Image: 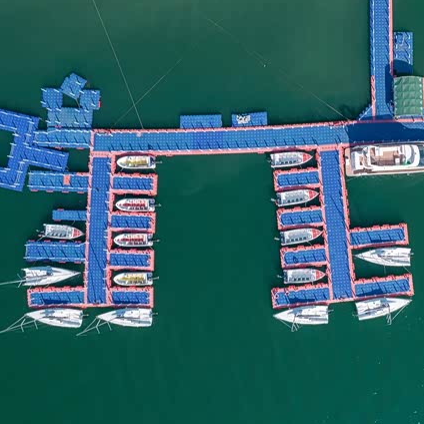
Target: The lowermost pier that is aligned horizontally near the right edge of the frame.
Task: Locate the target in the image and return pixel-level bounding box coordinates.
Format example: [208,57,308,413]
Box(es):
[355,274,414,299]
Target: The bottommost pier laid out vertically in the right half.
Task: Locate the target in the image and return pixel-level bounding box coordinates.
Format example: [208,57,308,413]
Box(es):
[317,149,356,302]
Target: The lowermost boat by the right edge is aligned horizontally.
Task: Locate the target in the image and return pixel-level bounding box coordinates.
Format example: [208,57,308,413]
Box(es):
[351,290,413,322]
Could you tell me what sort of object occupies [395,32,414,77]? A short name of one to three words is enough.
pier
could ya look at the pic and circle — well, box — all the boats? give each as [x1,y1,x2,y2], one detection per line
[278,269,326,288]
[354,248,417,267]
[113,233,161,252]
[266,153,313,172]
[0,308,90,335]
[113,272,160,291]
[115,198,163,216]
[351,290,413,322]
[38,225,85,242]
[272,191,319,212]
[345,142,424,178]
[274,306,335,334]
[116,155,163,174]
[276,228,323,250]
[83,308,160,336]
[1,262,83,288]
